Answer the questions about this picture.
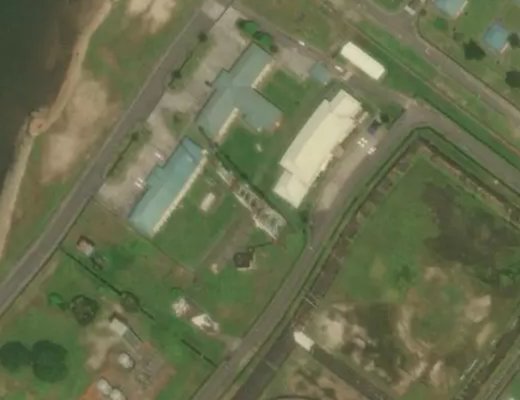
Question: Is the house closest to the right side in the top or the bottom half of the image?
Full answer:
The house closest to the right side sits in the top half of the picture.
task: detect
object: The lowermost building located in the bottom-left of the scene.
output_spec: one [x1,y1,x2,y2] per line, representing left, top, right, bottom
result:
[111,320,144,352]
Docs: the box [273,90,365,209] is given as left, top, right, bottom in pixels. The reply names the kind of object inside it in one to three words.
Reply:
building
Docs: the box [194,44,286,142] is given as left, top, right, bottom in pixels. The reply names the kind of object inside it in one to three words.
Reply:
building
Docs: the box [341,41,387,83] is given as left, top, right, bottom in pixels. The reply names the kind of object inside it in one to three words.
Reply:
shed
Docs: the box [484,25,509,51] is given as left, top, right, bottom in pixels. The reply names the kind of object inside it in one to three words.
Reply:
house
